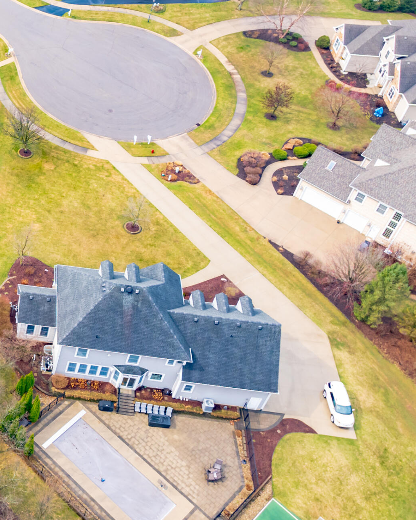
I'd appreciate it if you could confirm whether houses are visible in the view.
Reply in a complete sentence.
Yes, there is a house in the image.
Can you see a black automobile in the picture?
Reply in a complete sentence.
No, no black automobile can be seen from above.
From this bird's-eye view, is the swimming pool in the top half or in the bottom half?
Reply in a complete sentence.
It is in the bottom half that the swimming pool appears.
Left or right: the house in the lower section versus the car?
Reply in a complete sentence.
To the left of the car is where the house in the lower section appears.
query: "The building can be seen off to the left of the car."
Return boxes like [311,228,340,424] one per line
[16,257,283,414]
